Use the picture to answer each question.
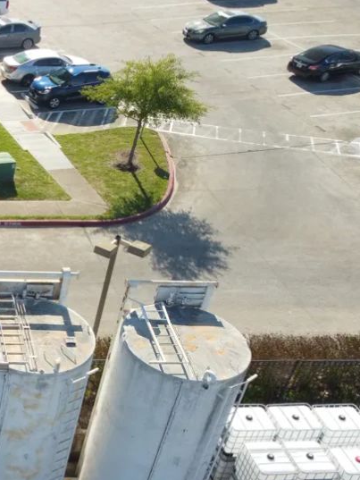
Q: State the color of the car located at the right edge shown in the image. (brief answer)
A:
black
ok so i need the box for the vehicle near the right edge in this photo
[292,42,360,77]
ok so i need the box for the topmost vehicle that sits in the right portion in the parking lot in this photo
[185,8,271,41]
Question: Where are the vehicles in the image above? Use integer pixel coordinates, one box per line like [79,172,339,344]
[0,18,46,47]
[30,57,122,99]
[185,8,271,41]
[292,42,360,77]
[0,45,83,81]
